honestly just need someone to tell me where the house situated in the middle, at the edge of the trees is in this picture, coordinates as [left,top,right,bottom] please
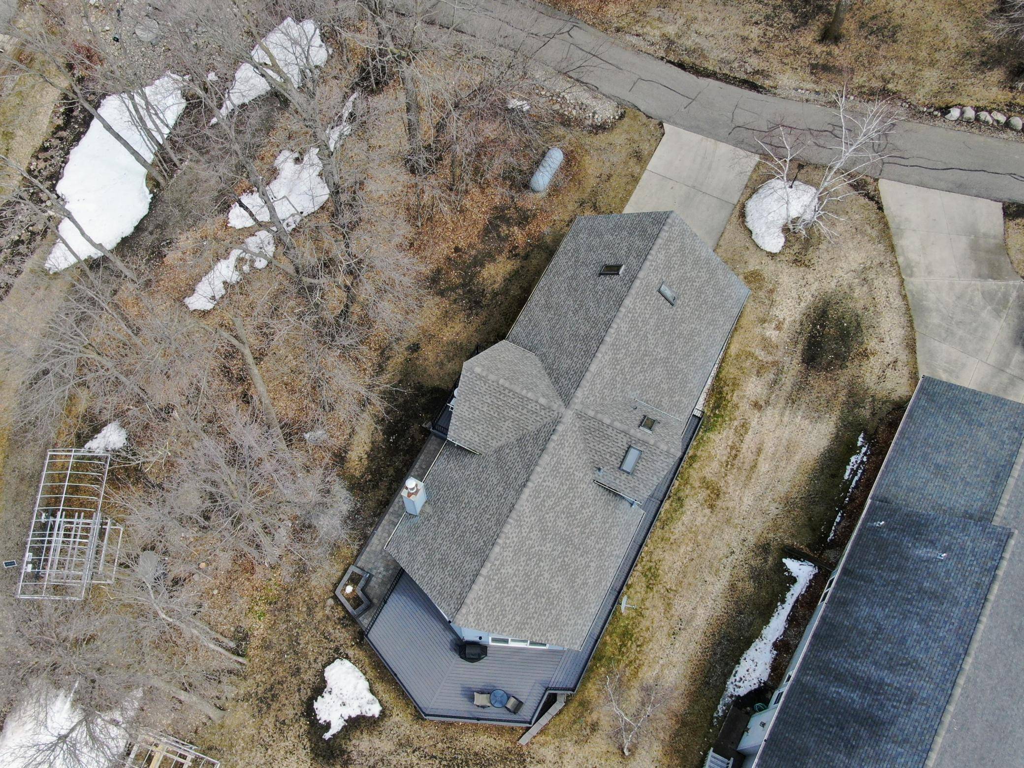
[382,211,750,652]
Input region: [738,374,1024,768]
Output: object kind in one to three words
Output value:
house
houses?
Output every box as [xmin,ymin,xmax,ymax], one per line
[738,374,1024,768]
[382,211,750,652]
